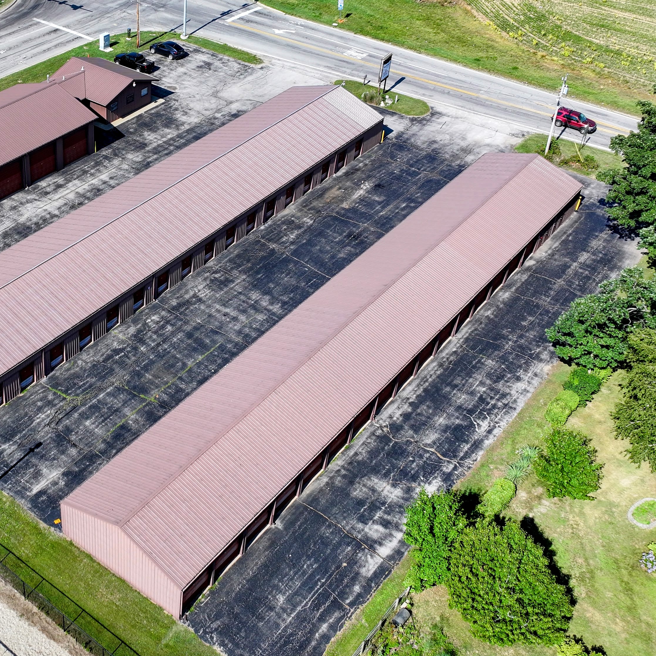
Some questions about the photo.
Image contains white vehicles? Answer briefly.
No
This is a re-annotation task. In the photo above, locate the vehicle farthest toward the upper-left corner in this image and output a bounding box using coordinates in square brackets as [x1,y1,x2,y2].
[113,50,154,72]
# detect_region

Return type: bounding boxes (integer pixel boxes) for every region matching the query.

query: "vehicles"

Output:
[550,106,600,134]
[148,41,186,60]
[113,50,154,72]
